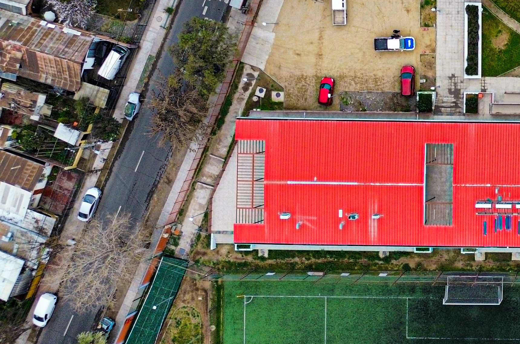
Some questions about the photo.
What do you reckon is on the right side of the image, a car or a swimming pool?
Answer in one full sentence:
The feature located on the right side of the image is a car.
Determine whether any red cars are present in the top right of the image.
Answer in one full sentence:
Yes, looking in the top right of the image, one can make out a red car.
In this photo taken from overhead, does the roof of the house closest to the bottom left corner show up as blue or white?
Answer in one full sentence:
In this view, the roof of the house closest to the bottom left corner is white.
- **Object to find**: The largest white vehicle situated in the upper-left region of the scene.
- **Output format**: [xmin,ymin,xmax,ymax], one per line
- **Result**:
[96,43,130,83]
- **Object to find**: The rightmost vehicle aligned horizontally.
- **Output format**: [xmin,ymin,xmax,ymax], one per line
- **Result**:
[373,35,416,52]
